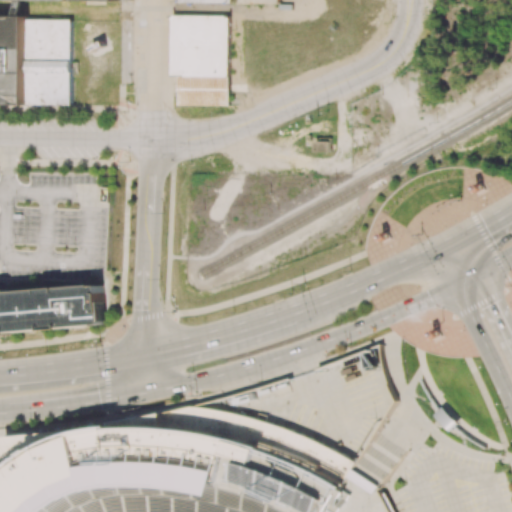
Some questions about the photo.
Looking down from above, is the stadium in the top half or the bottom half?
bottom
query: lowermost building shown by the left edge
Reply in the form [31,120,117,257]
[0,285,108,332]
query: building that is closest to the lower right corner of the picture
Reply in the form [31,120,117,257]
[434,408,458,433]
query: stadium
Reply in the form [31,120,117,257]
[0,424,348,512]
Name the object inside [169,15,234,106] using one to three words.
building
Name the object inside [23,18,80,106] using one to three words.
building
